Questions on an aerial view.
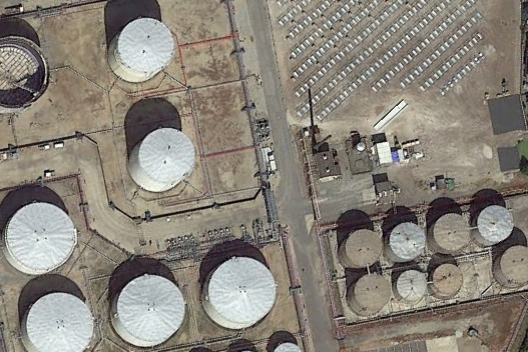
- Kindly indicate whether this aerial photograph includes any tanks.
Yes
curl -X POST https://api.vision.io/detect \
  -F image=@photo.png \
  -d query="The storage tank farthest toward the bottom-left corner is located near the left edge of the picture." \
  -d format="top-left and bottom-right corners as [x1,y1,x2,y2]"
[19,292,95,352]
